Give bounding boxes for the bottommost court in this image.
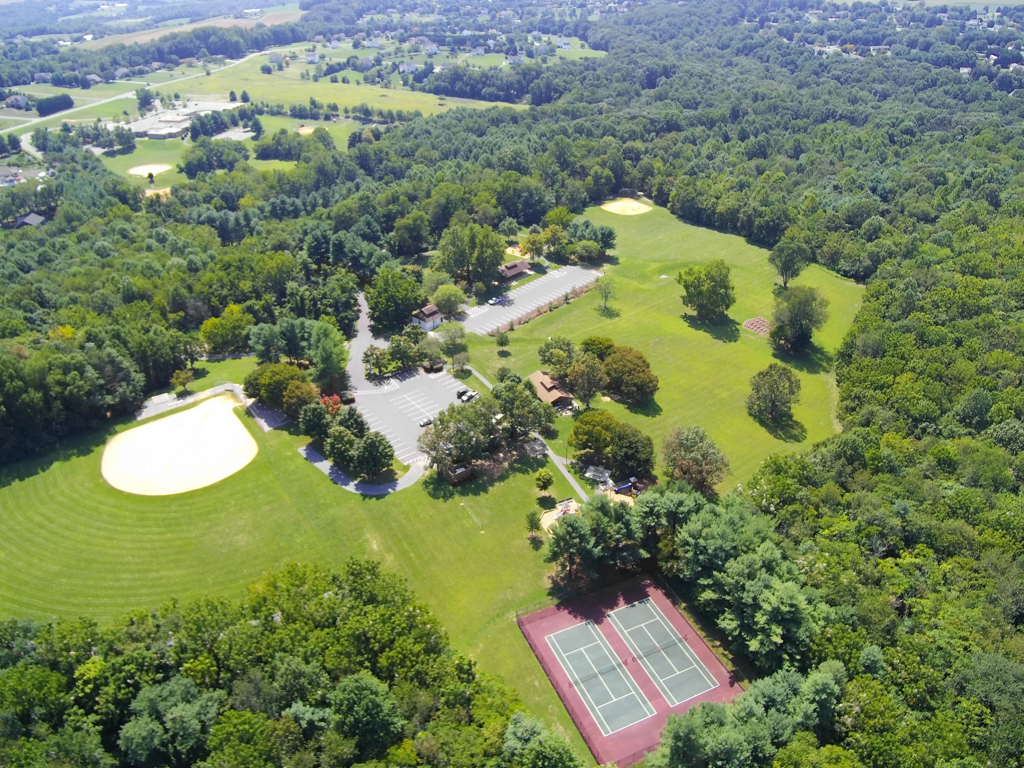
[519,573,759,768]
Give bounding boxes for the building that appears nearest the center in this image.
[528,368,573,409]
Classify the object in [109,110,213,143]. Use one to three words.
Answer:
building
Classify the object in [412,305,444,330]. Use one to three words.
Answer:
shed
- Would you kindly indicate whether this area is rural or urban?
rural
